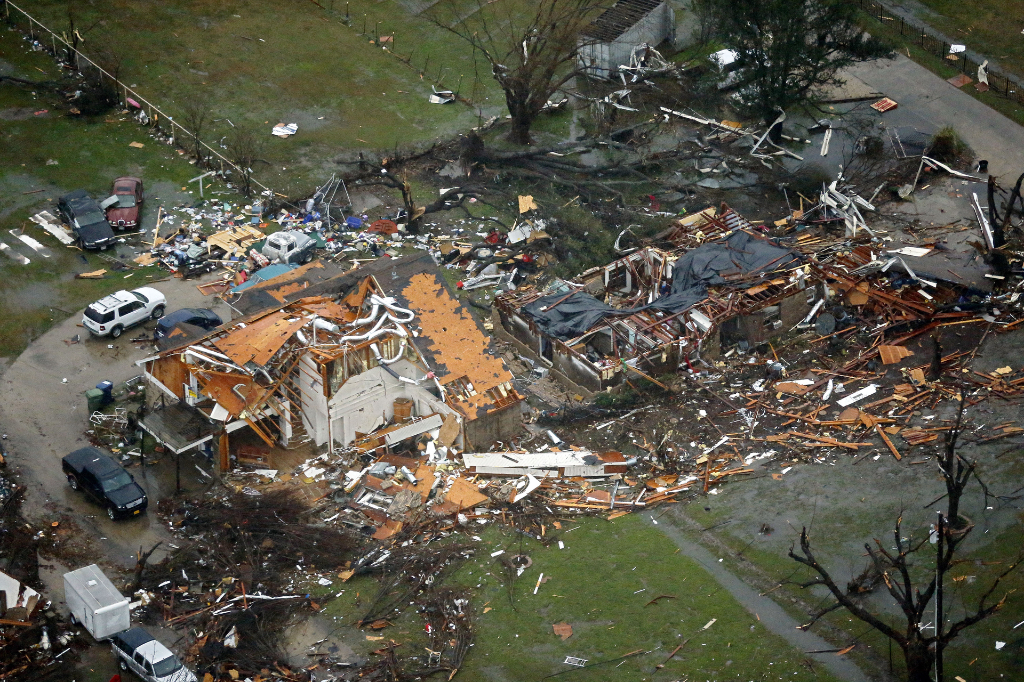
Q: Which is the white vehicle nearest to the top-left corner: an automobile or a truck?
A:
automobile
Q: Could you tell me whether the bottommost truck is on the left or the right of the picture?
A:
left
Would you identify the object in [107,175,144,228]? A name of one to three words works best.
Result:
car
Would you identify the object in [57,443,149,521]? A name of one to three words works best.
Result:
truck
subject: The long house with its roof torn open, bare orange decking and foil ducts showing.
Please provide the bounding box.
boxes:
[135,251,529,498]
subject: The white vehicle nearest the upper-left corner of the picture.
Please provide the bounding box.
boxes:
[85,284,171,336]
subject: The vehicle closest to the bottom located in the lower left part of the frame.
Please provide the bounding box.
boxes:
[110,629,185,682]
